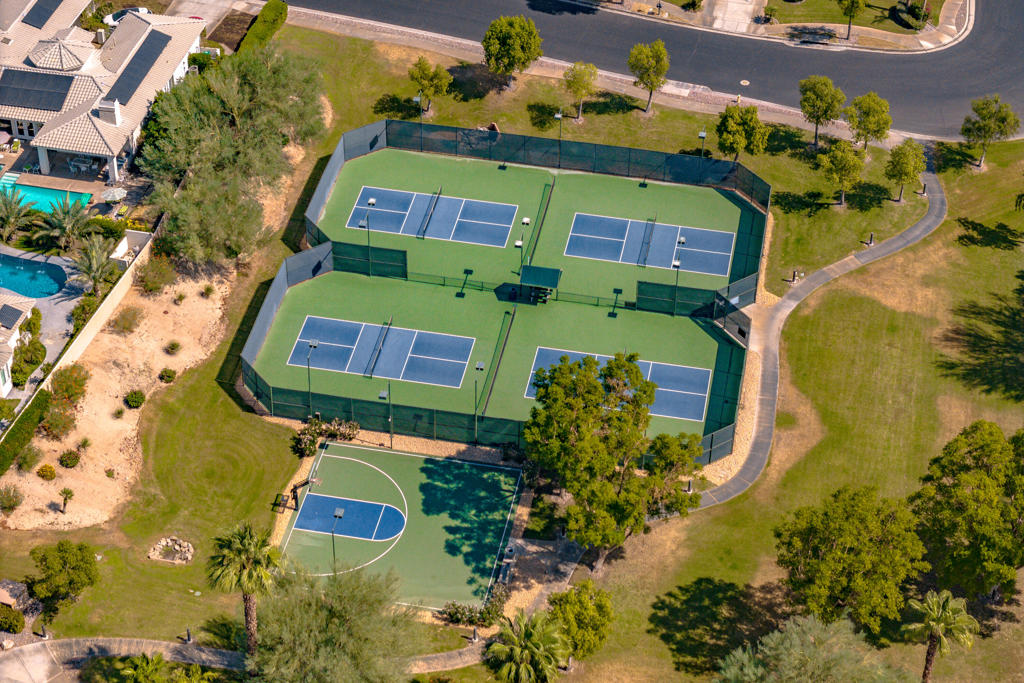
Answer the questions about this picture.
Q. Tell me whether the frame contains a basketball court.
Yes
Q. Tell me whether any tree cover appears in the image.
Yes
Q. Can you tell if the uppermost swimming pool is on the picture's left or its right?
left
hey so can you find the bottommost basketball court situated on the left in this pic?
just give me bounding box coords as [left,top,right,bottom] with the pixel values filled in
[272,440,522,621]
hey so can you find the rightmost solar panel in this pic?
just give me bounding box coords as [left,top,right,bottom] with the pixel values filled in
[105,29,171,105]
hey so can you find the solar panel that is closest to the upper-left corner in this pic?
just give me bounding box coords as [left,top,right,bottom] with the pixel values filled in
[21,0,71,31]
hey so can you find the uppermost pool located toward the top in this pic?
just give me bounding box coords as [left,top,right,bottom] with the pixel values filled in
[0,169,97,218]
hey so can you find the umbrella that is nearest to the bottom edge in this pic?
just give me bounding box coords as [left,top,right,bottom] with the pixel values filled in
[100,182,127,211]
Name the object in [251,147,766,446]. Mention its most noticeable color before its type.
green sports court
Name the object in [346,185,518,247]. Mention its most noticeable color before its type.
blue sports court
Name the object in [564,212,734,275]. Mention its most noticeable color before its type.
blue sports court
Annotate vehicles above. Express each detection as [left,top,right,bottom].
[102,2,153,27]
[189,16,206,28]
